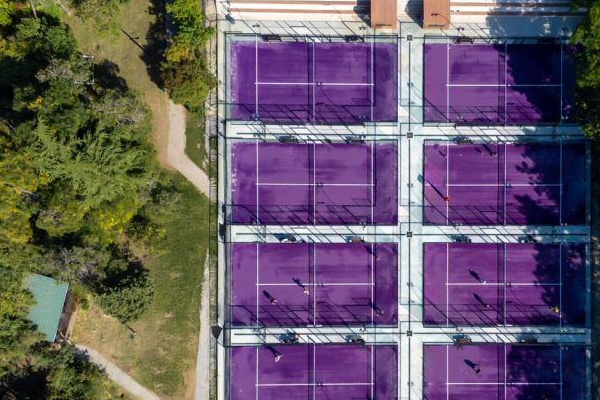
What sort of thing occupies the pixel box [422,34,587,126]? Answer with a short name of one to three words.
sports court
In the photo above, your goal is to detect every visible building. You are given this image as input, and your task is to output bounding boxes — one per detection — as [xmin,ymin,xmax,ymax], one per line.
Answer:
[370,0,398,31]
[14,272,77,342]
[423,0,451,31]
